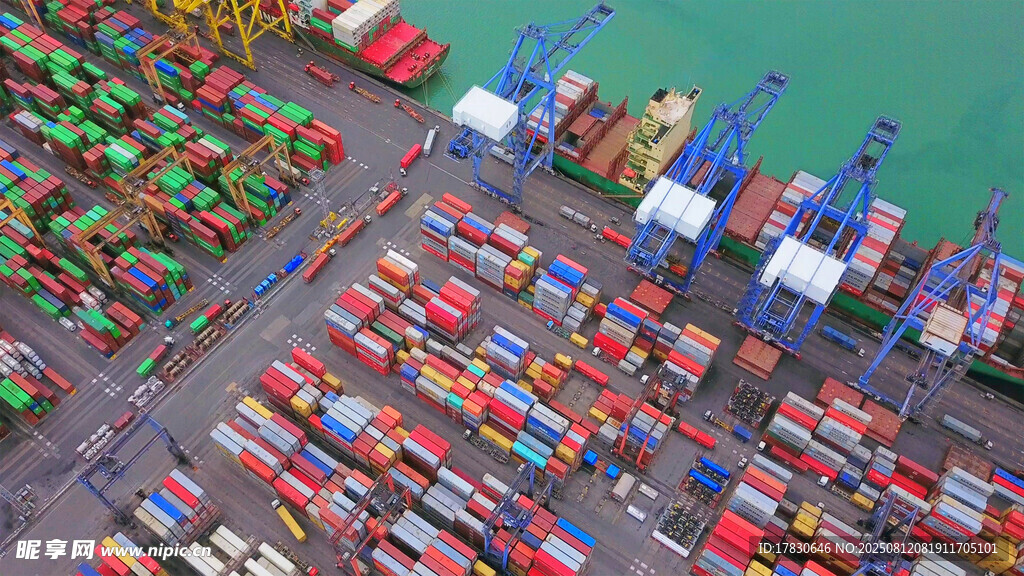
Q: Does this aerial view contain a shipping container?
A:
Yes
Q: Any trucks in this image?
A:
Yes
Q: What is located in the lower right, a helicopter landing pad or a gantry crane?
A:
gantry crane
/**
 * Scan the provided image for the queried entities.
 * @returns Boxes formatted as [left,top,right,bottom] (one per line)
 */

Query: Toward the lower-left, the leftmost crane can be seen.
[75,413,190,525]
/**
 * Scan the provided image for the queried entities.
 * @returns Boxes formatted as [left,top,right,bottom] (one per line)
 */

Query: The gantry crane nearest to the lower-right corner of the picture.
[845,488,923,576]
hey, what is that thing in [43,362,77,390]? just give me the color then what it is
red shipping container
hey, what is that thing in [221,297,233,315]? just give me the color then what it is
red vehicle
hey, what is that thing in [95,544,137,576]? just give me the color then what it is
red shipping container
